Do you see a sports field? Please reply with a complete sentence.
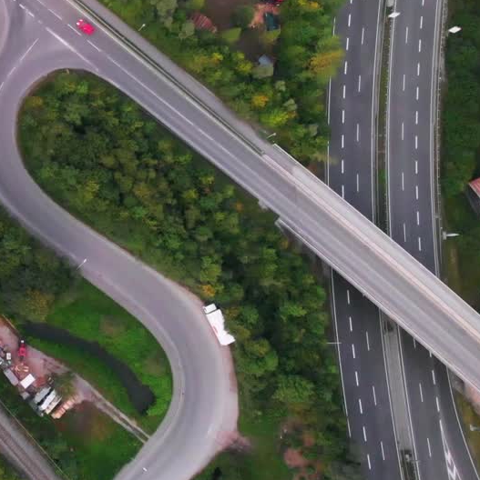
No, no sports field is visible in the scene.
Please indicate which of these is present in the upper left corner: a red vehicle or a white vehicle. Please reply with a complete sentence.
You can see a red vehicle in the upper left corner.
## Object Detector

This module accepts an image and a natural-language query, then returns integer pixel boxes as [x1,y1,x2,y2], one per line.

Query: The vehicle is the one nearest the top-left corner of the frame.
[77,18,96,35]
